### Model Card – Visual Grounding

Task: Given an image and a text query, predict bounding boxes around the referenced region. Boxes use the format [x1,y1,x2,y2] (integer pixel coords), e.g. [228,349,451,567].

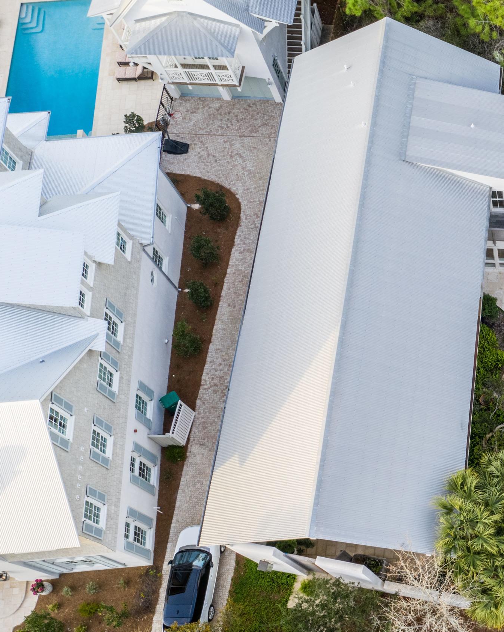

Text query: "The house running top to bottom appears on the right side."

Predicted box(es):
[197,17,504,559]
